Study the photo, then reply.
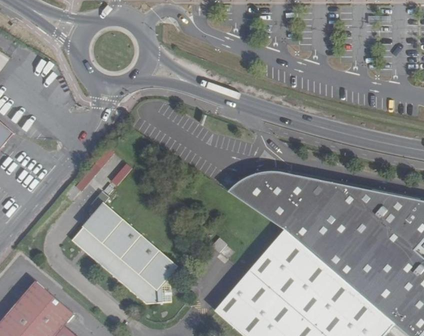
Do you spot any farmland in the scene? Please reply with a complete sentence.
No, there's no farmland in this view.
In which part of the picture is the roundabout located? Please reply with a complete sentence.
Look in the top left portion of the view to spot the roundabout.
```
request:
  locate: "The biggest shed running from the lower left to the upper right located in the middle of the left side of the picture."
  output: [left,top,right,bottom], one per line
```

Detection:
[76,150,115,191]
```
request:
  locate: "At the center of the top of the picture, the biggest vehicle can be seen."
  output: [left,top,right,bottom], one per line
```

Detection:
[201,80,243,100]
